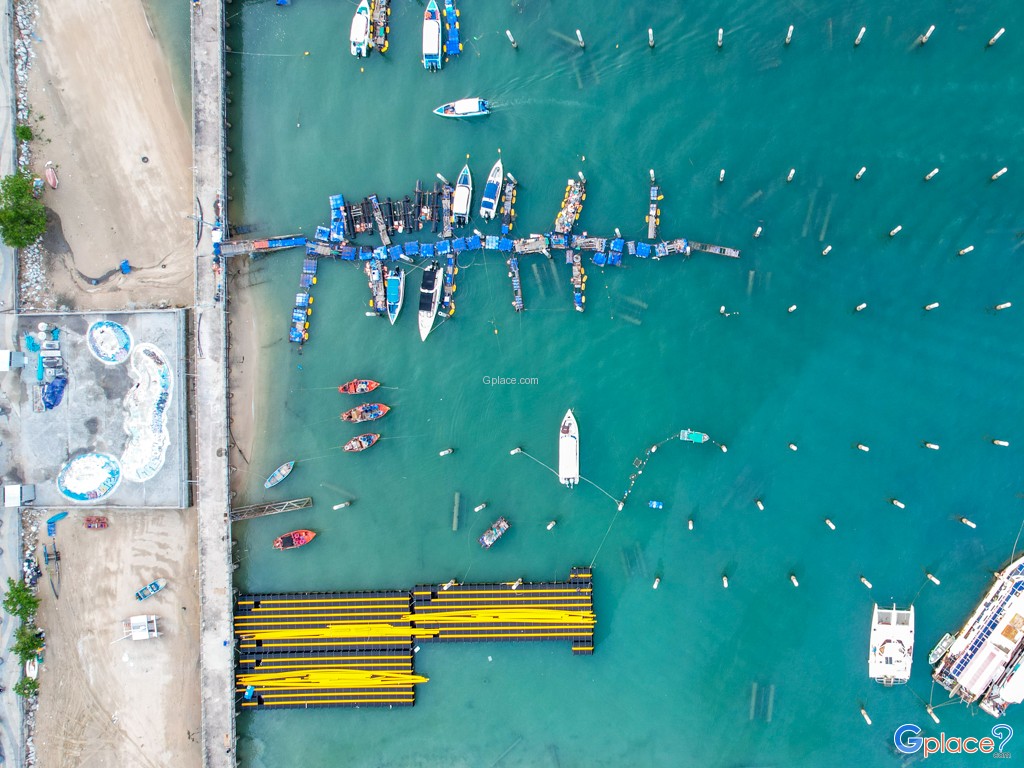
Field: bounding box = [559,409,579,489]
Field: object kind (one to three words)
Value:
boat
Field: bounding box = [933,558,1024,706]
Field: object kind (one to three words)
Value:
ship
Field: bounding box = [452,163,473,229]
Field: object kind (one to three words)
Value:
boat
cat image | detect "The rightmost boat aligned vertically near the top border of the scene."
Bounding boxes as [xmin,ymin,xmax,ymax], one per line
[422,0,442,73]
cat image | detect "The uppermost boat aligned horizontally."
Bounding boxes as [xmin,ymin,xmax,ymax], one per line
[433,97,494,117]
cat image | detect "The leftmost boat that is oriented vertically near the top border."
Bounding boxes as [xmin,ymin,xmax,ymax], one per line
[349,0,371,61]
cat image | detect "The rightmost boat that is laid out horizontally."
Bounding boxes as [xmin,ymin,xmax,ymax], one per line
[679,430,709,443]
